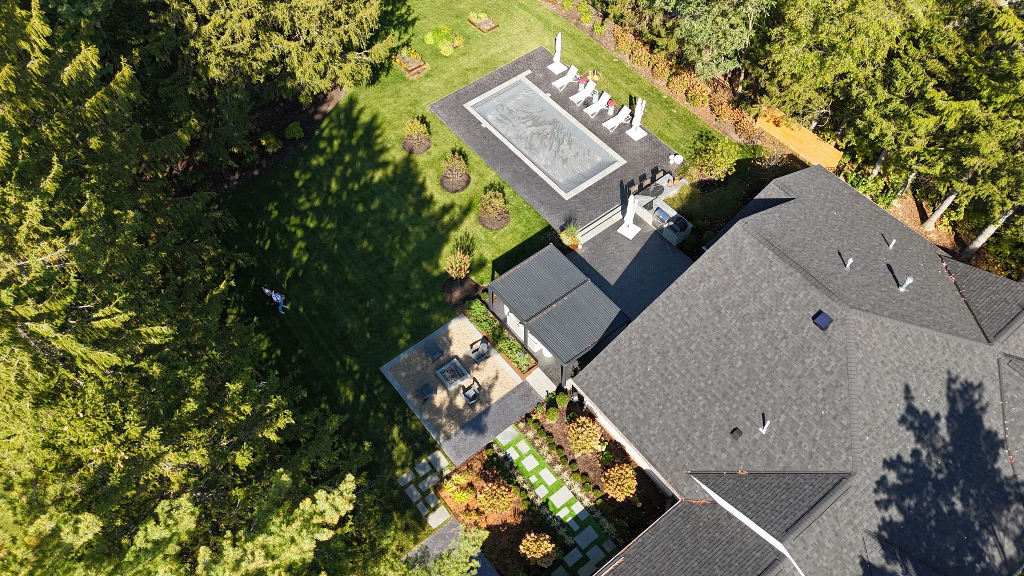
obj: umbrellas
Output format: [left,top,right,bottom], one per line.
[617,195,645,238]
[546,32,568,75]
[625,96,651,139]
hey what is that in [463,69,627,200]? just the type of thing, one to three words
swimming pool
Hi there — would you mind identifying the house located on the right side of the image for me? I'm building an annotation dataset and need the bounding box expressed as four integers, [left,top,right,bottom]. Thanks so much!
[567,161,1024,576]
